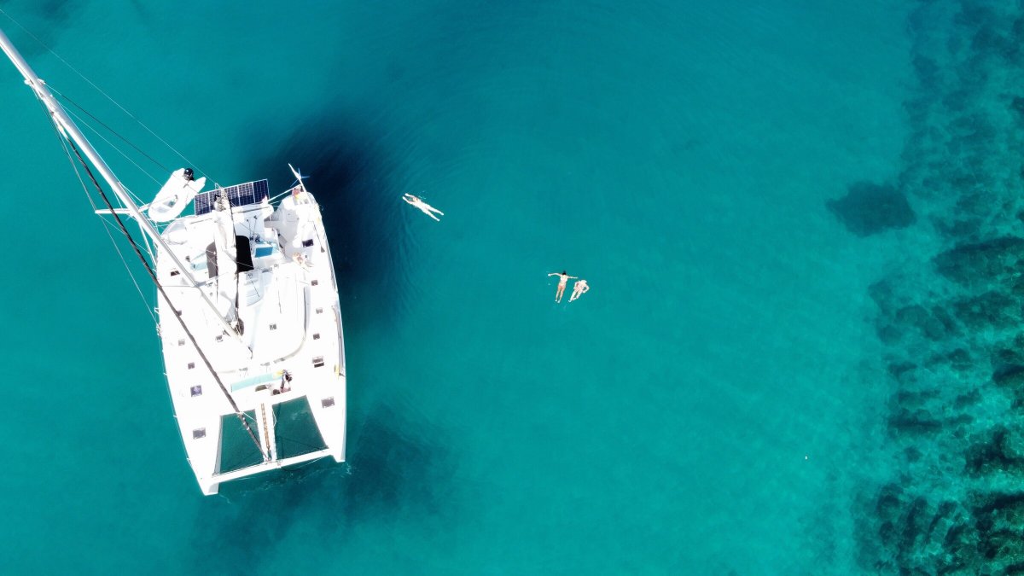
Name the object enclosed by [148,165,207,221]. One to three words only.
boat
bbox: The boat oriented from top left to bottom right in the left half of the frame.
[0,3,346,498]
